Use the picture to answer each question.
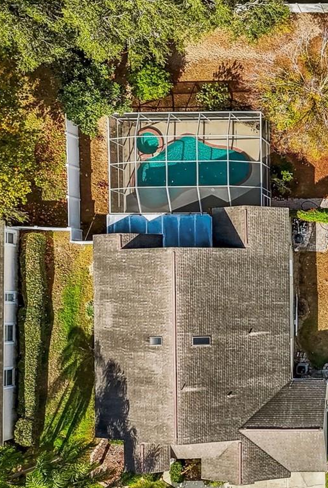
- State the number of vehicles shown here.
0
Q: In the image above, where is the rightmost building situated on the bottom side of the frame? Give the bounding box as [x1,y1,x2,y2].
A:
[92,206,328,485]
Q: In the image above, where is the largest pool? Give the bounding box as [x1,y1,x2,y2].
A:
[132,133,254,210]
